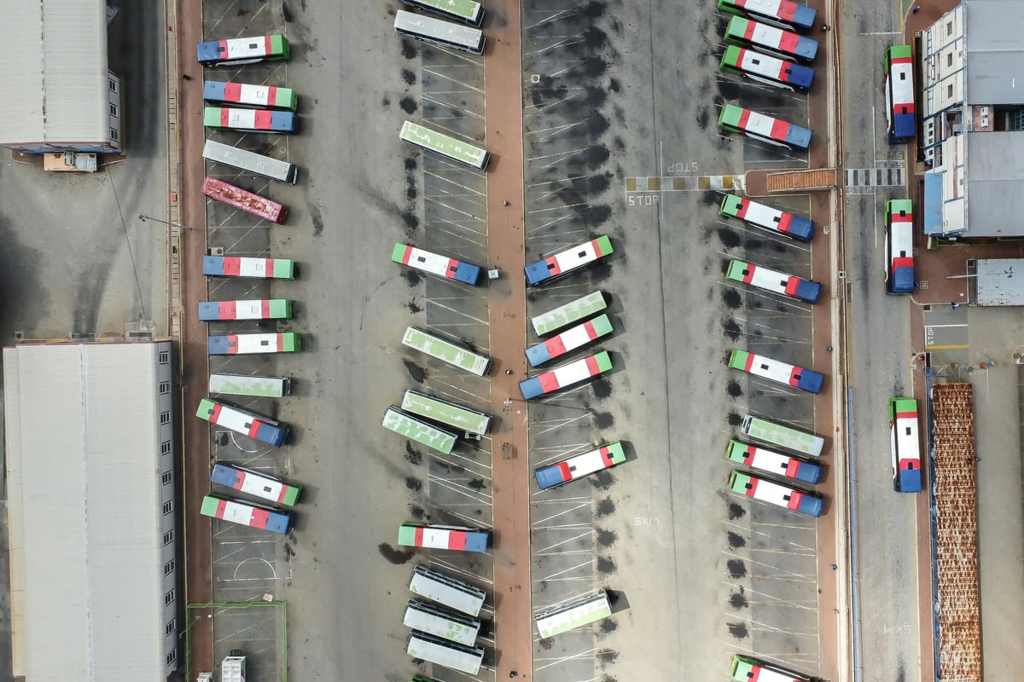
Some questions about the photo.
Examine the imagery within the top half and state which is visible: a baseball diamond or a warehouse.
warehouse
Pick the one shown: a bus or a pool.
bus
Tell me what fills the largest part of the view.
paved ground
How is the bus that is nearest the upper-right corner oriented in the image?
vertically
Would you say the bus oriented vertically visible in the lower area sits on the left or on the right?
right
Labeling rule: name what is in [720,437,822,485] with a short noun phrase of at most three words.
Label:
bus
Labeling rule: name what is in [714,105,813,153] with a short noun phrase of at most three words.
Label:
bus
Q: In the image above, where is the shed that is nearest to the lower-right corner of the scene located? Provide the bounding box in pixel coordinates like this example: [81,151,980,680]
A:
[932,382,982,682]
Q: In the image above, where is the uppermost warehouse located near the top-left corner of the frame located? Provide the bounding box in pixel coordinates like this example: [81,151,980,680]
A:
[0,0,127,155]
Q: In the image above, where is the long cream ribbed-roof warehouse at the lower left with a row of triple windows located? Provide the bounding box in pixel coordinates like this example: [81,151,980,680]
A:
[6,344,186,682]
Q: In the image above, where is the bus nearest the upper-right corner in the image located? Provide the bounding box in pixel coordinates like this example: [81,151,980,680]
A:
[880,44,914,144]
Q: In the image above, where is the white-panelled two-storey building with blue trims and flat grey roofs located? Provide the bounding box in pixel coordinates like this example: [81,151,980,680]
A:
[923,3,1024,247]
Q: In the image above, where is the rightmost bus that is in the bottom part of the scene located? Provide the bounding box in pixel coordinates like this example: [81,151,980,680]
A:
[885,395,920,493]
